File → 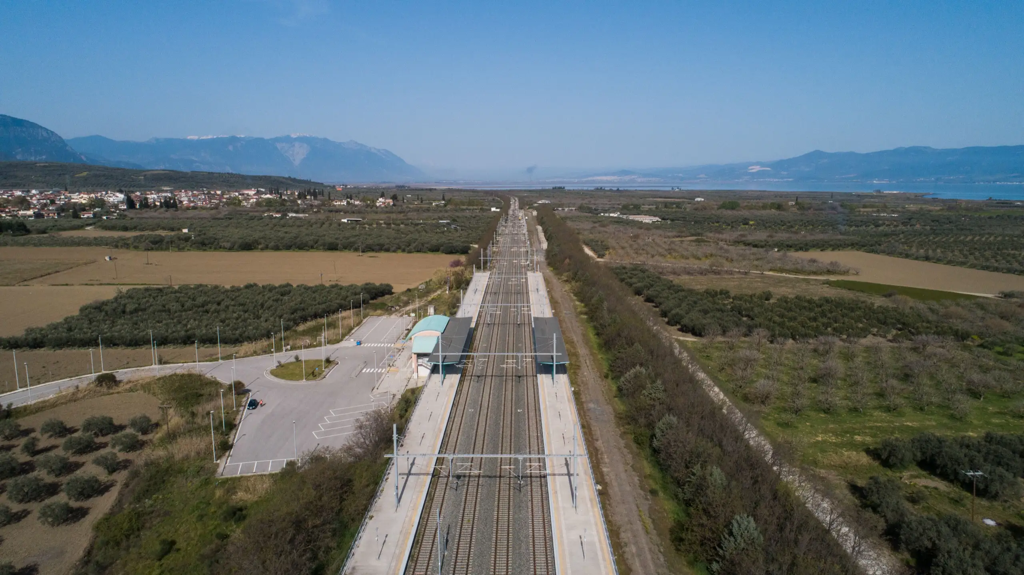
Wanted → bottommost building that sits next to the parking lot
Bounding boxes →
[405,315,450,379]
